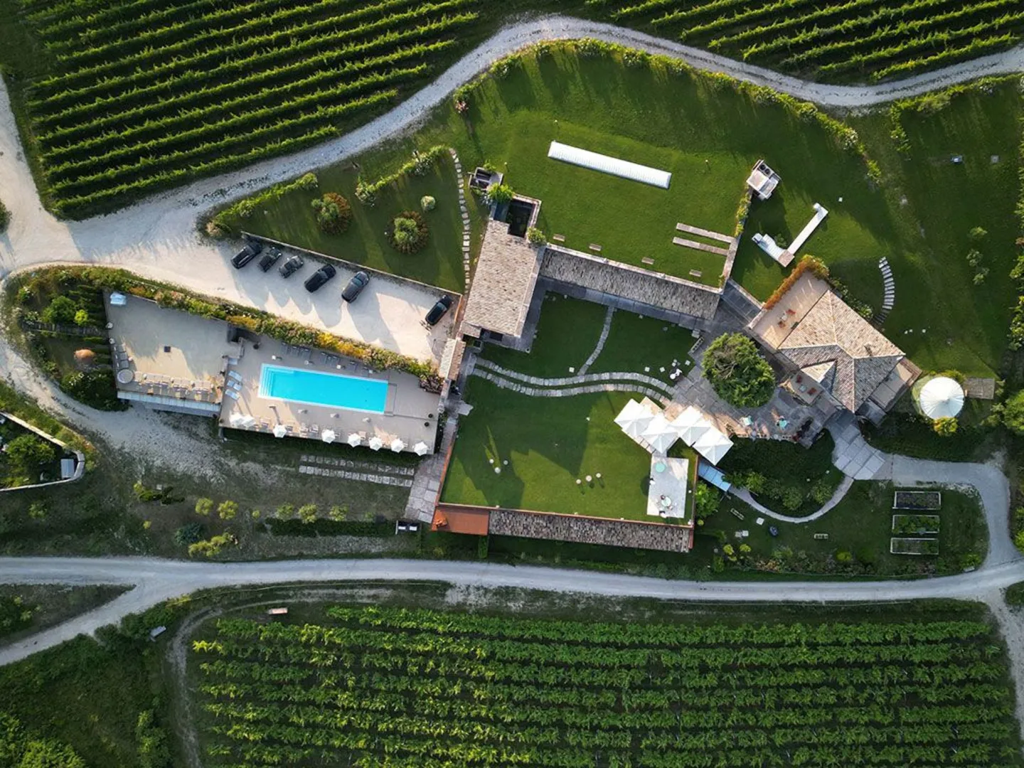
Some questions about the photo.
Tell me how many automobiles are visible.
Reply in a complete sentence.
The count of automobiles comes to 6.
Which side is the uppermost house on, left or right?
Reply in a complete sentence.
The uppermost house appears in the right half of the scene.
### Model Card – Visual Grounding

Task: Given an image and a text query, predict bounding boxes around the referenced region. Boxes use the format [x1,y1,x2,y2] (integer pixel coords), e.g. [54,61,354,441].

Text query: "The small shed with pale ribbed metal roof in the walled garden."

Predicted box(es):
[61,459,80,478]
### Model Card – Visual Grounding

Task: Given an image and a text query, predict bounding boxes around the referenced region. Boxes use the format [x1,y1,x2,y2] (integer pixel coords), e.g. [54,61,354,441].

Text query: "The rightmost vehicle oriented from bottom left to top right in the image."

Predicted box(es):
[421,293,455,328]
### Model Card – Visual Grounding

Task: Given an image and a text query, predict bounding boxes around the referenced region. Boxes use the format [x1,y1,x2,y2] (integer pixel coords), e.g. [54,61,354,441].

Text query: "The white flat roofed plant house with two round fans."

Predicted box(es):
[744,158,784,201]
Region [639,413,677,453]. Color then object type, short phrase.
white umbrella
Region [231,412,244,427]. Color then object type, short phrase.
white umbrella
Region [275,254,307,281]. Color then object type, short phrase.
gray car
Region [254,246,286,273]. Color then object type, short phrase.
black car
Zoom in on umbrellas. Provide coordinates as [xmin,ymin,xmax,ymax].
[369,437,383,450]
[639,413,677,453]
[347,433,362,447]
[614,399,654,437]
[231,412,244,427]
[322,429,336,443]
[243,414,257,427]
[414,442,429,455]
[693,419,734,465]
[274,423,287,438]
[670,406,707,446]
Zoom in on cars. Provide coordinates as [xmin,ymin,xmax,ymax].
[339,270,372,304]
[421,293,455,328]
[275,254,307,281]
[229,241,266,272]
[254,246,286,273]
[302,263,339,295]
